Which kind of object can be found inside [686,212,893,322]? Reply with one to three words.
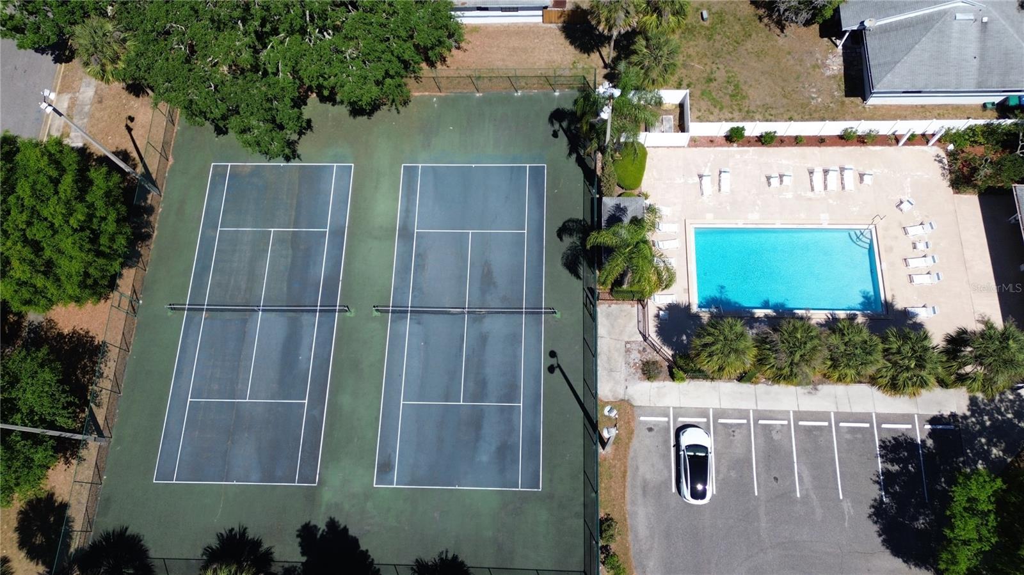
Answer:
swimming pool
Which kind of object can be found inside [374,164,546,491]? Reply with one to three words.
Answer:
tennis court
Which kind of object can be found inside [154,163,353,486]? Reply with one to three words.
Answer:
tennis court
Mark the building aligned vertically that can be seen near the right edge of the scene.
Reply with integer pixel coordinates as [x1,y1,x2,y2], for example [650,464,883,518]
[994,183,1024,253]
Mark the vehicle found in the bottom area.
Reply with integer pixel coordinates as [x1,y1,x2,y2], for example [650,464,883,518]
[678,428,714,504]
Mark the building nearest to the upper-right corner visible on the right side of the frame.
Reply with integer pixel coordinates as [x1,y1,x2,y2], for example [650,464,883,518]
[837,0,1024,104]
